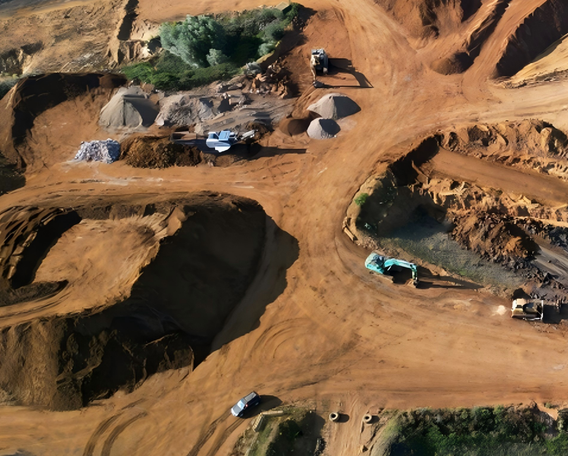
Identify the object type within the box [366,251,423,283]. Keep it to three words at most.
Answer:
work vehicle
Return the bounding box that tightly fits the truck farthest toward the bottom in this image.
[226,394,263,423]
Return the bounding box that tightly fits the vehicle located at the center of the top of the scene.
[307,52,329,86]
